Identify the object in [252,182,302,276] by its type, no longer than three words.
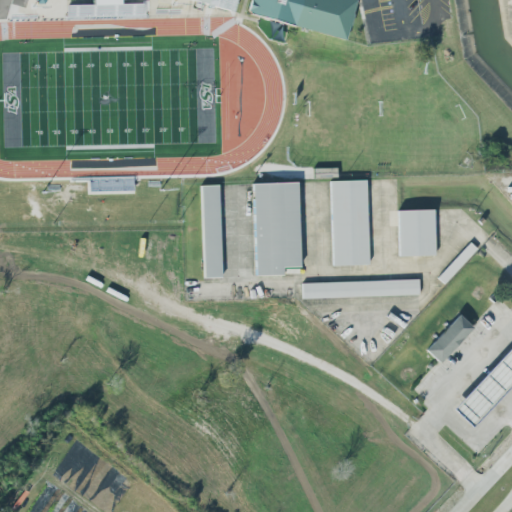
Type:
building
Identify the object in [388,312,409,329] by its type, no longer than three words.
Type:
camper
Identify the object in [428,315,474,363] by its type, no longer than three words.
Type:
house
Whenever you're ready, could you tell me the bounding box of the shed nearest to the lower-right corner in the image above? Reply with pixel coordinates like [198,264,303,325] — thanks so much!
[456,351,512,426]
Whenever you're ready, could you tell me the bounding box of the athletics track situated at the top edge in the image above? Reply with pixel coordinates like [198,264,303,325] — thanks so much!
[0,16,285,180]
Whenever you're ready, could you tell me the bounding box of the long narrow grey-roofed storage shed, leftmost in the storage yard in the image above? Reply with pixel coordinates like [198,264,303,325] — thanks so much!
[202,185,223,276]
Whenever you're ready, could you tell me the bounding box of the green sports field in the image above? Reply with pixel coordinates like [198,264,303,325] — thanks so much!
[0,34,220,160]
